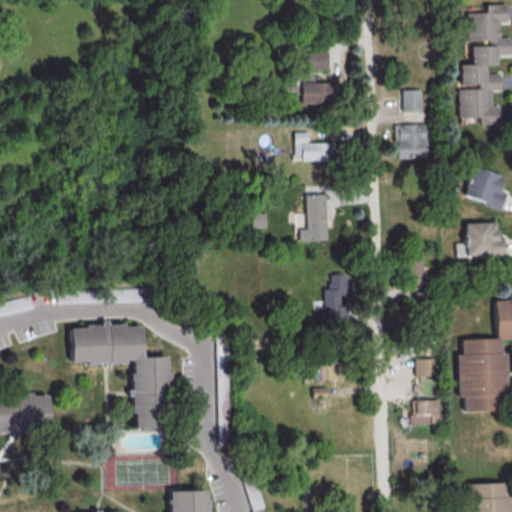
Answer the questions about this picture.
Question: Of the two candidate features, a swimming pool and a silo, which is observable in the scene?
swimming pool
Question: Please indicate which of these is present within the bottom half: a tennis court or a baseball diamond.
tennis court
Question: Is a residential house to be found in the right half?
Yes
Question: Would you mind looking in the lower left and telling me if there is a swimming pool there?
Yes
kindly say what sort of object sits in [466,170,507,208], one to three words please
house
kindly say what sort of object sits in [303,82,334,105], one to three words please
house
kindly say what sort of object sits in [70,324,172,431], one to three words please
building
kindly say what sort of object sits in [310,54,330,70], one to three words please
building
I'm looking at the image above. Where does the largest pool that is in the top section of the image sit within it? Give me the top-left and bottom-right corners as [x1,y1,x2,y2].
[258,134,273,149]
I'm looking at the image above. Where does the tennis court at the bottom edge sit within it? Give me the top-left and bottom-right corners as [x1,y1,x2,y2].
[106,456,179,490]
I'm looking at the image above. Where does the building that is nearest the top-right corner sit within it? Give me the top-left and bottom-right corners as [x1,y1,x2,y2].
[460,5,512,126]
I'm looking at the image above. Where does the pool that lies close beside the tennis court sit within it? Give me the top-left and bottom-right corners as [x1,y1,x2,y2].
[113,432,166,456]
